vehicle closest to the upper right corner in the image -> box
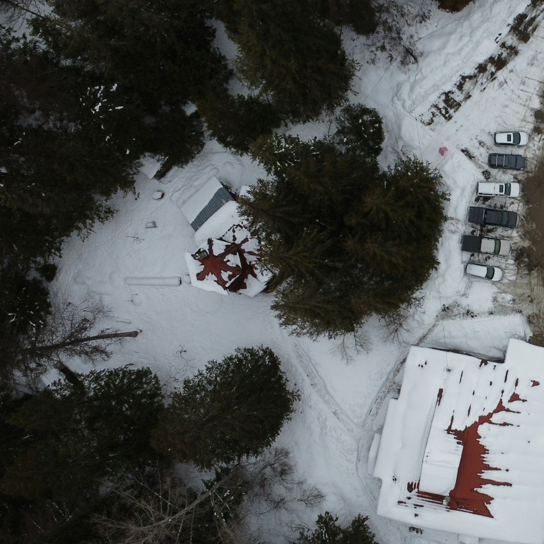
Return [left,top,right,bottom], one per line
[494,130,531,148]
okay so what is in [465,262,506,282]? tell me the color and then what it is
white car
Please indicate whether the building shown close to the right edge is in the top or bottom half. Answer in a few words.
bottom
